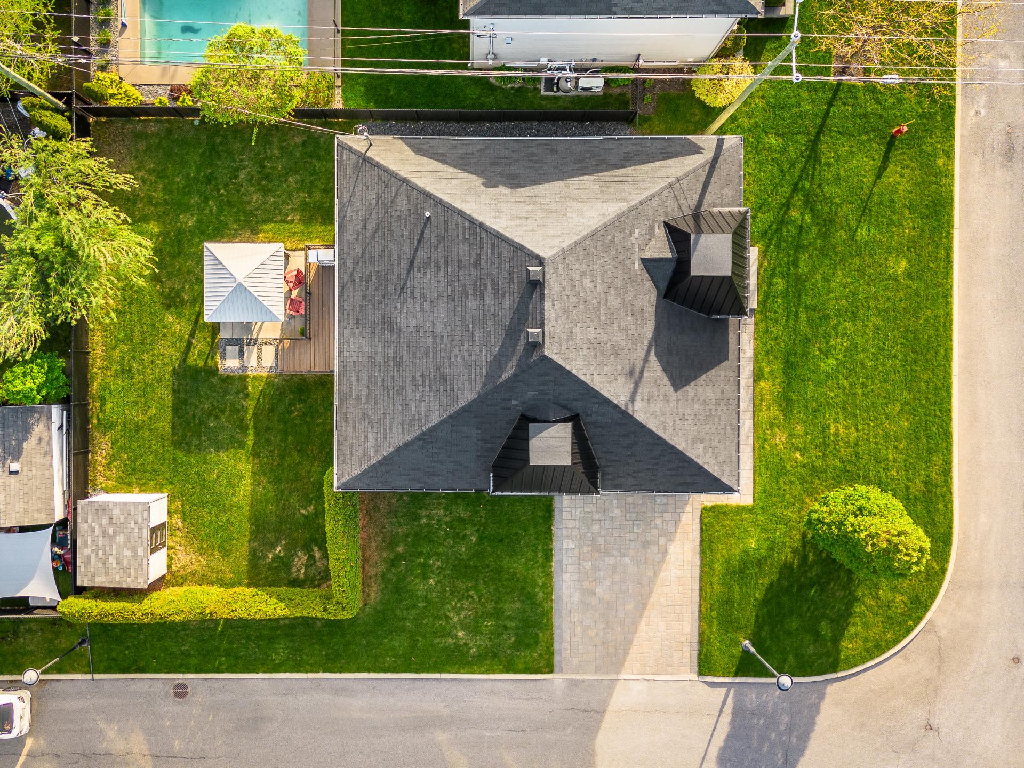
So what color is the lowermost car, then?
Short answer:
white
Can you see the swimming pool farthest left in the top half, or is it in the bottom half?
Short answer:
top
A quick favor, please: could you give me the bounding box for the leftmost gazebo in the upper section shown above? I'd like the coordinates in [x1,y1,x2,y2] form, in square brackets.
[204,242,295,323]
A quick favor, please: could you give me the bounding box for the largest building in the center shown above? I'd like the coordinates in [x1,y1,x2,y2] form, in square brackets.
[333,133,752,497]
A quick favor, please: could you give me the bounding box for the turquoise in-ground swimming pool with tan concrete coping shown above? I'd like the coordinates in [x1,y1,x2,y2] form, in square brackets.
[119,0,341,85]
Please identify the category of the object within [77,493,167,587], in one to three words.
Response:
shed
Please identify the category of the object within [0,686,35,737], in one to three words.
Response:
car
